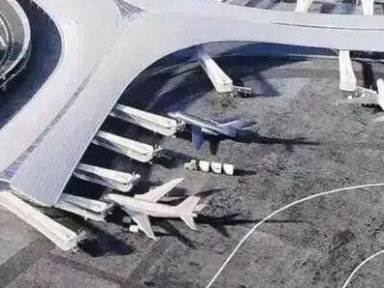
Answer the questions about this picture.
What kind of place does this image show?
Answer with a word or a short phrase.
airport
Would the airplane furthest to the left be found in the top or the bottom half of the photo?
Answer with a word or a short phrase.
bottom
